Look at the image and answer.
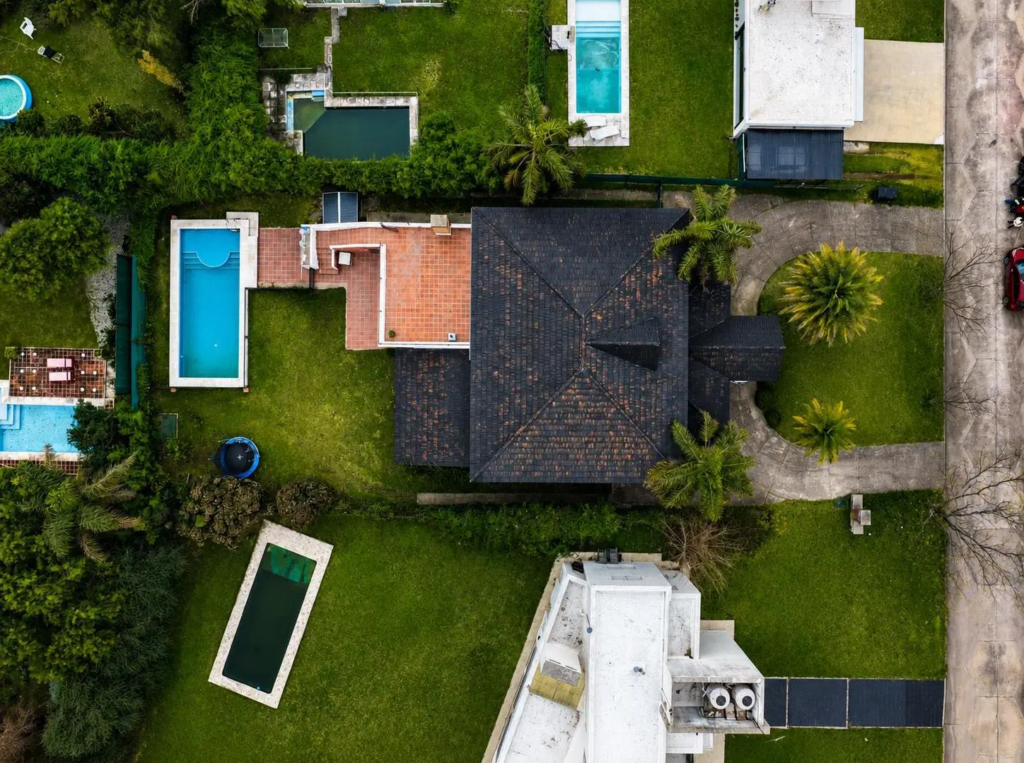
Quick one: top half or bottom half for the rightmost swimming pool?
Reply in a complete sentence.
It is in the top half that the rightmost swimming pool appears.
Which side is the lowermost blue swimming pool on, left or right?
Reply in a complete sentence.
The lowermost blue swimming pool is on the left side of the image.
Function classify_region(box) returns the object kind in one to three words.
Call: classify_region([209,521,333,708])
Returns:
swimming pool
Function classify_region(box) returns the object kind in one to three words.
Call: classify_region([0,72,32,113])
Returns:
swimming pool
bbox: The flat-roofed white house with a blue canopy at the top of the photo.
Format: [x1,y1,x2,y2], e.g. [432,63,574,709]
[733,0,863,184]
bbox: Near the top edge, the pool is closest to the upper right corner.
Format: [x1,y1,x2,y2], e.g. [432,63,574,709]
[568,0,629,147]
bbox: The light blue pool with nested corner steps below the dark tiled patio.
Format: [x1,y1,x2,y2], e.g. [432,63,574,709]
[0,396,92,460]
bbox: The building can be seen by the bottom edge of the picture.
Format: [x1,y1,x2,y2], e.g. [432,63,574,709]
[492,563,765,763]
